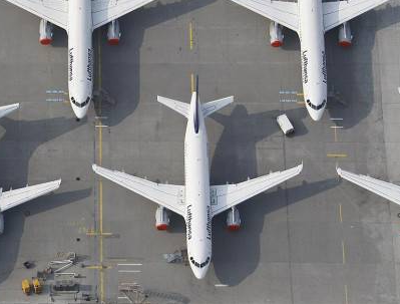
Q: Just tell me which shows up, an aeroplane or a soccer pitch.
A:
aeroplane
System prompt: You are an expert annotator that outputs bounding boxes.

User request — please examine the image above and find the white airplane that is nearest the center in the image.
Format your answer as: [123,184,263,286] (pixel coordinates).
[91,77,302,280]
